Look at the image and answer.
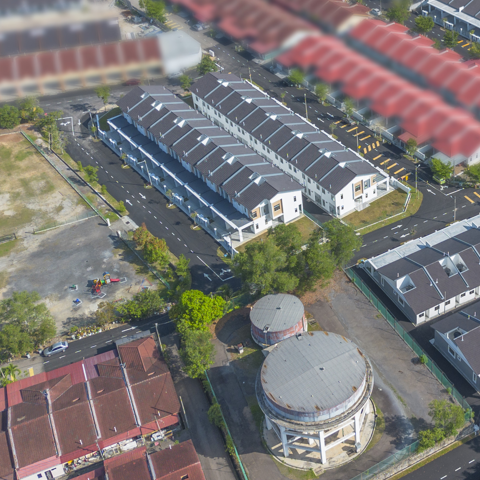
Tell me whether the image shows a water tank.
Yes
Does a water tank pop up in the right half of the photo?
Yes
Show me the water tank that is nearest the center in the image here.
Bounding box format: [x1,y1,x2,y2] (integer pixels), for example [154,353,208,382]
[248,291,309,352]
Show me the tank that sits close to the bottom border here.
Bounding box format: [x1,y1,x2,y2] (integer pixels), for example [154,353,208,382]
[256,334,379,471]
